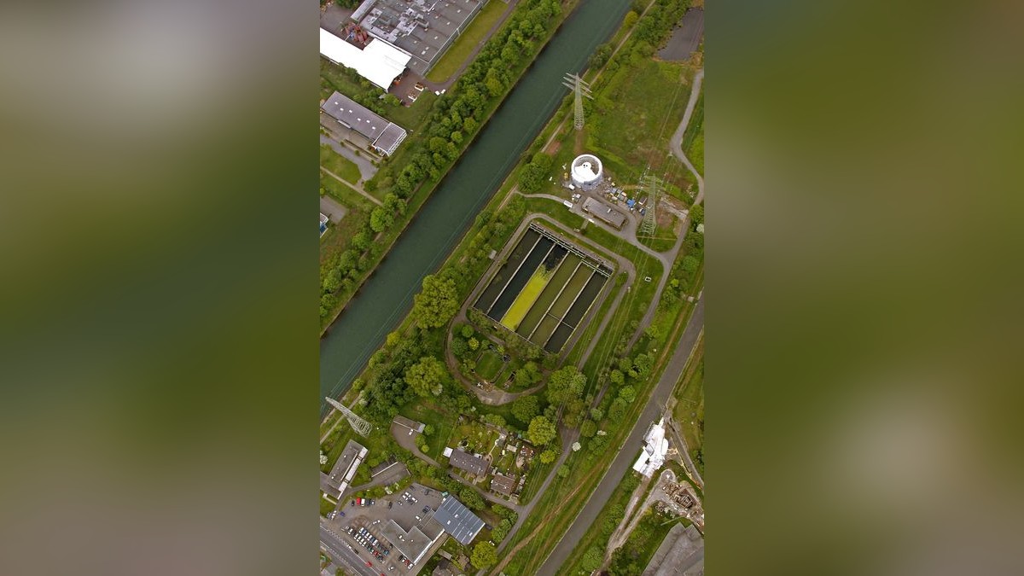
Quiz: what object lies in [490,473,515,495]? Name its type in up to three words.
house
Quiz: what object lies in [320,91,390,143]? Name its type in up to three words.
building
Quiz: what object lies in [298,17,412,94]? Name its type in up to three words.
building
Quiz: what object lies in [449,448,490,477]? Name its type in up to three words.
house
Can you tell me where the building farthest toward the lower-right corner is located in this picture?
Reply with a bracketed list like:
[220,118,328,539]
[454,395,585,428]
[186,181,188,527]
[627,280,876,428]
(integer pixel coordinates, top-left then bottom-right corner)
[642,523,730,576]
